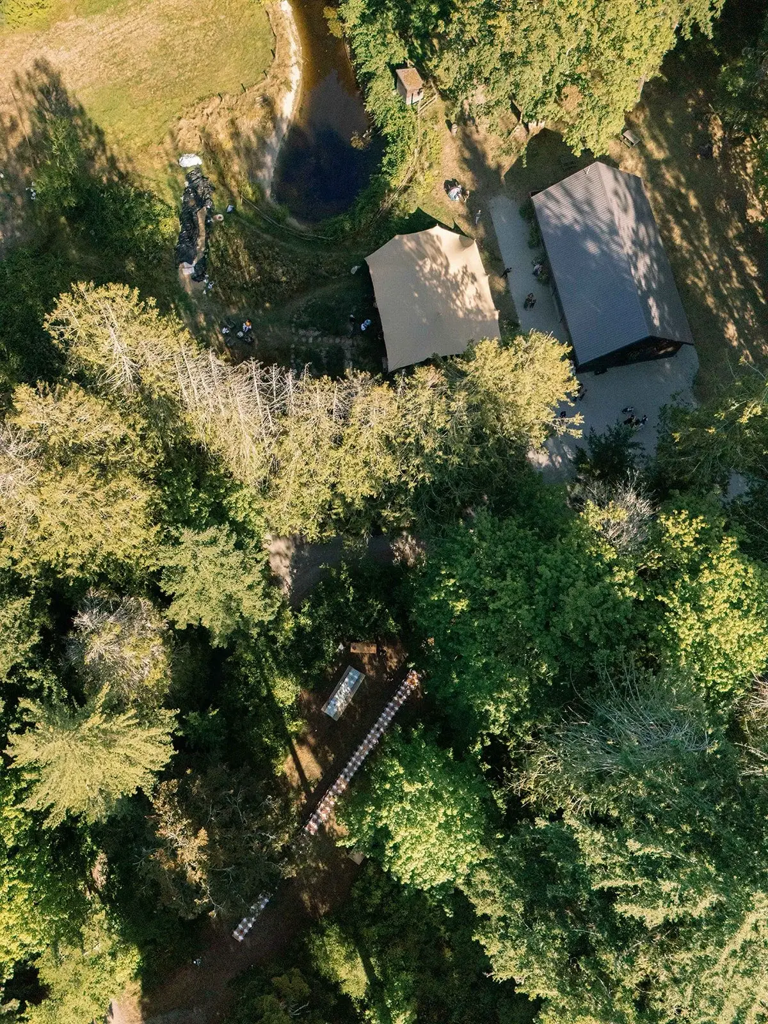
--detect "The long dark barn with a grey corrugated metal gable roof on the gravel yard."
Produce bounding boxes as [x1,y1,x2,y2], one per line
[530,160,697,373]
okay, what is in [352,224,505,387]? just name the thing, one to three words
tent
